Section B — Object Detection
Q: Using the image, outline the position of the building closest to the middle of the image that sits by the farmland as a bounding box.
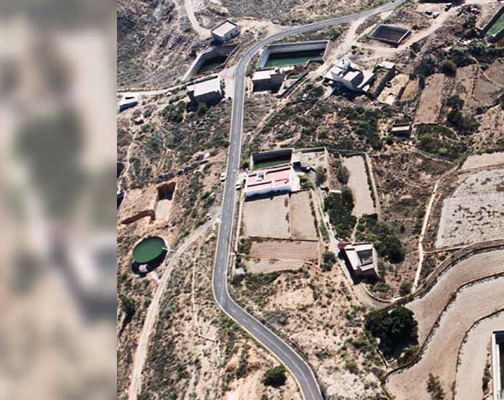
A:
[244,166,299,203]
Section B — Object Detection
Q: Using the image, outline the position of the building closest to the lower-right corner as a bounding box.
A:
[344,243,376,280]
